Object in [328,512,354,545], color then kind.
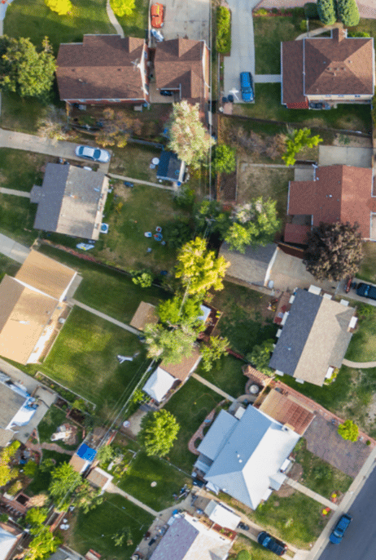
blue truck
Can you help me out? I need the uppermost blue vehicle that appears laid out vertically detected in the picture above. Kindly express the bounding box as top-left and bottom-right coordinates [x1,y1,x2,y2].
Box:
[239,70,255,103]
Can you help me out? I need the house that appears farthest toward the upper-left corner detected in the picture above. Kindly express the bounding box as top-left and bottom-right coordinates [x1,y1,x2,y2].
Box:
[53,34,152,102]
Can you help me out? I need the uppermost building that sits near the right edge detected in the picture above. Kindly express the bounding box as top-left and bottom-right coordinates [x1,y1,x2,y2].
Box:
[281,26,375,106]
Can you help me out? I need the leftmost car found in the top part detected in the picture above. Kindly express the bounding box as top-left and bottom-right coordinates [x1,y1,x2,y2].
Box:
[74,147,112,163]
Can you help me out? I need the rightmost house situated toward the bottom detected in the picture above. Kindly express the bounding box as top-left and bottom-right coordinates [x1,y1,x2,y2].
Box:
[268,288,360,388]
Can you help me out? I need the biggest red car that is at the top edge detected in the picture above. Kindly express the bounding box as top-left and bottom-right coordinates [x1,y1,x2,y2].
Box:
[149,3,164,30]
